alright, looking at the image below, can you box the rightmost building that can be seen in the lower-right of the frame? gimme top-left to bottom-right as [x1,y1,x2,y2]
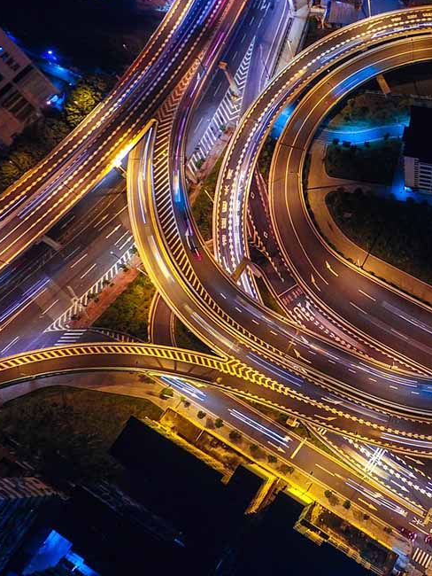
[264,489,387,576]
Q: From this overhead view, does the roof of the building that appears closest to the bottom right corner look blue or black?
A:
black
